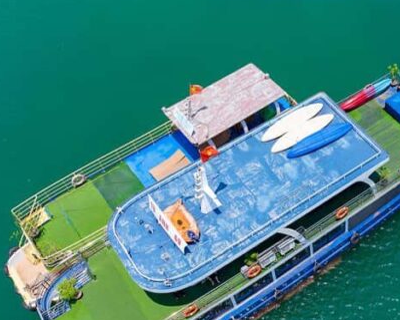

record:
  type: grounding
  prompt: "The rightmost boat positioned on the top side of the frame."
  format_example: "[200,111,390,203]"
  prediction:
[342,83,392,116]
